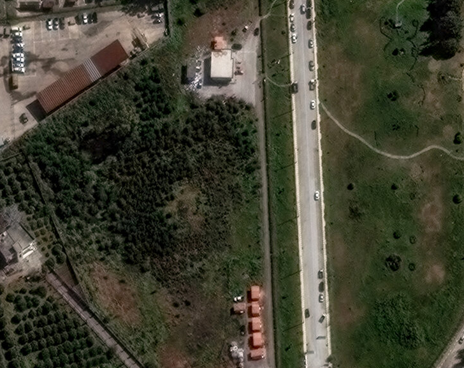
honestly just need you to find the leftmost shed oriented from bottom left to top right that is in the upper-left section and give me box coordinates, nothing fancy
[36,64,94,118]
